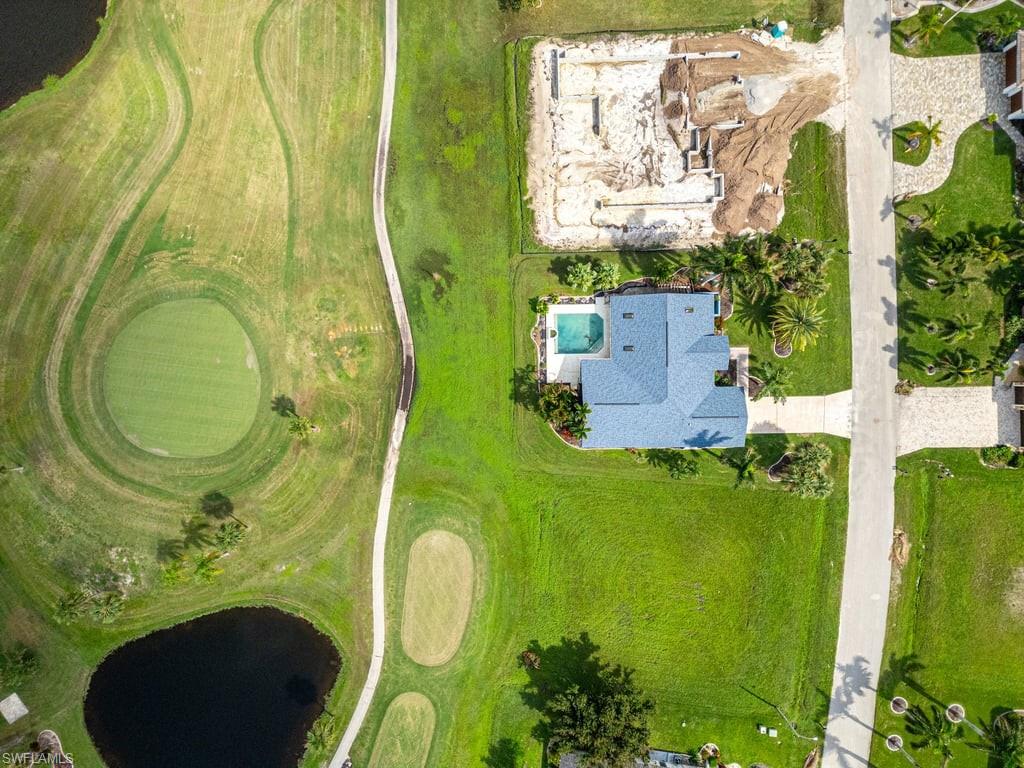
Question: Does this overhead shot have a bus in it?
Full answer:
No, the frame has no bus in it.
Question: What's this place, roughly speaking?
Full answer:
The area seen from above is a golf course.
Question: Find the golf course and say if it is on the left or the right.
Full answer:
The golf course appears in the left half of the scene.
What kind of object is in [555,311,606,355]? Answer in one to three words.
swimming pool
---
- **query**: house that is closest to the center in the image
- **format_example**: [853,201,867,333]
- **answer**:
[581,291,747,447]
